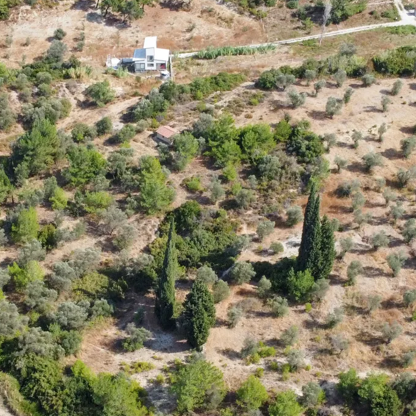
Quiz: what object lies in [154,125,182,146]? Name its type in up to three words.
shed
